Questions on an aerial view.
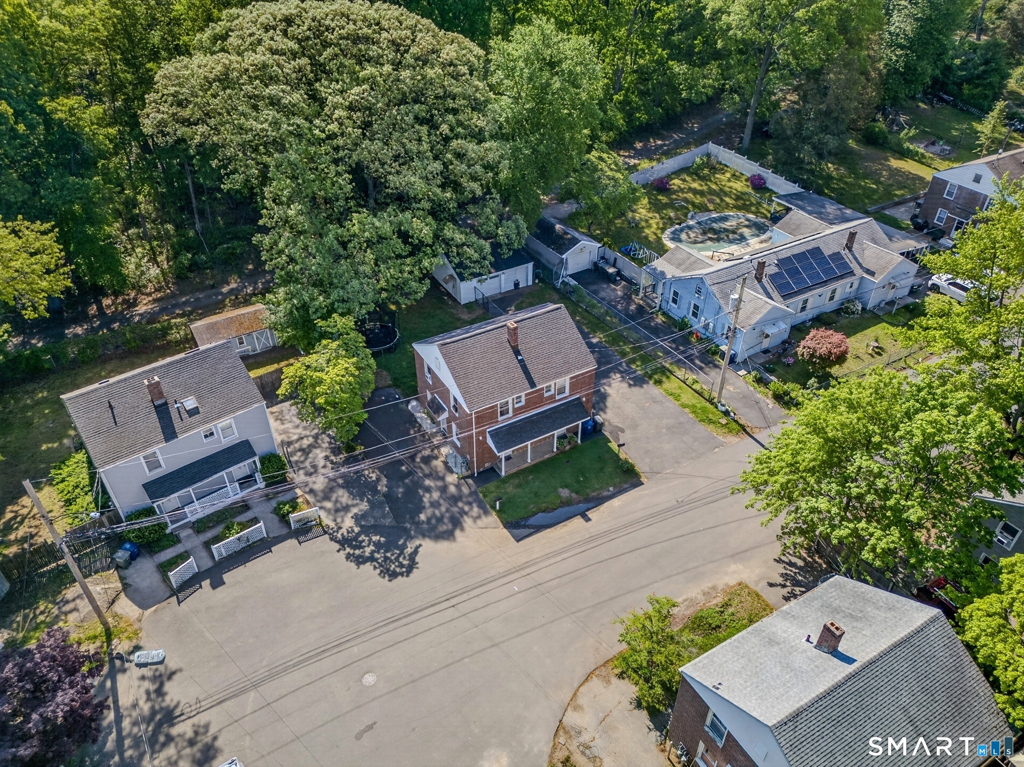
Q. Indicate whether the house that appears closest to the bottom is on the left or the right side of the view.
right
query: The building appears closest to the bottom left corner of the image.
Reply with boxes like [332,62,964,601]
[62,339,276,540]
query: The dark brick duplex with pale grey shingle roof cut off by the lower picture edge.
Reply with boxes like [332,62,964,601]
[669,576,1016,767]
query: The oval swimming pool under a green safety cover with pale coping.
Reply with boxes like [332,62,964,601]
[659,211,779,262]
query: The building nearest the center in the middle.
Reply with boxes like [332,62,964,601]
[412,304,598,481]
